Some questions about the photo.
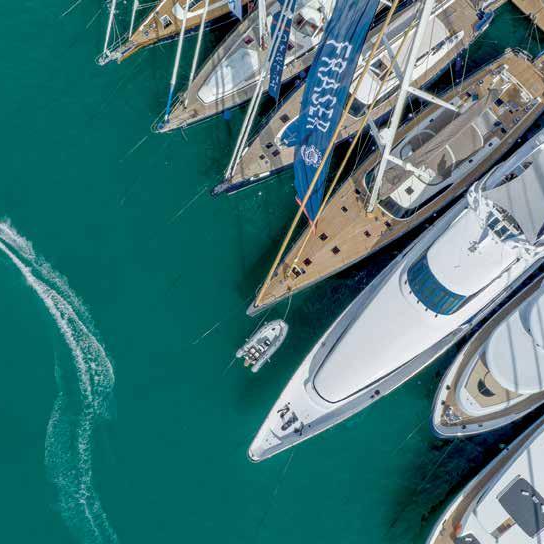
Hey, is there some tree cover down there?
No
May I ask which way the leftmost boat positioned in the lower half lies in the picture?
diagonally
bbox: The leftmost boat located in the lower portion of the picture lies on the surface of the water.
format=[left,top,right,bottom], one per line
[237,319,288,369]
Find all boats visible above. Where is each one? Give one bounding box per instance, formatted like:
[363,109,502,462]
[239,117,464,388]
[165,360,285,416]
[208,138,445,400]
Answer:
[92,0,249,64]
[431,416,544,544]
[249,130,544,460]
[237,319,288,369]
[248,0,544,316]
[156,0,335,135]
[430,270,544,434]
